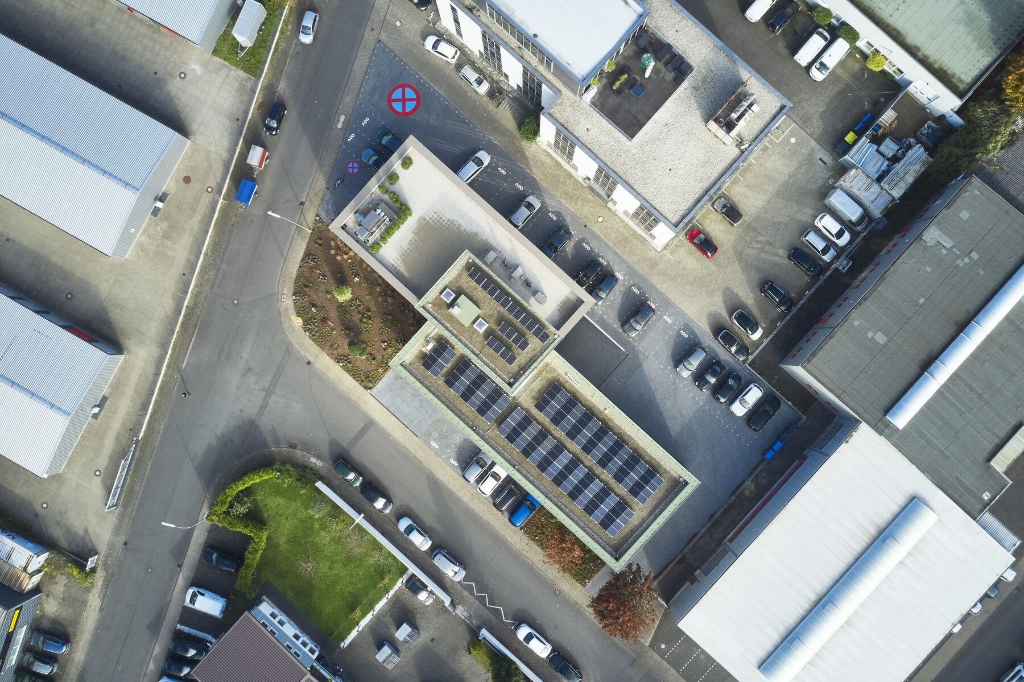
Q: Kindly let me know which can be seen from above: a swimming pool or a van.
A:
van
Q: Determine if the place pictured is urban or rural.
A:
urban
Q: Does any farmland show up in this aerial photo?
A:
No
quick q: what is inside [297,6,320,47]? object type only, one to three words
car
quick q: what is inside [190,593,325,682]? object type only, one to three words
house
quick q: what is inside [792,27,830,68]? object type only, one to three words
van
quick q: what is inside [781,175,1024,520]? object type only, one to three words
building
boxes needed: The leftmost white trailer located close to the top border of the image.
[229,0,267,58]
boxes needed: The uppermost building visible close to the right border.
[804,0,1024,138]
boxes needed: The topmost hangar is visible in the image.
[100,0,238,57]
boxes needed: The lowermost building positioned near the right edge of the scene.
[667,417,1016,682]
